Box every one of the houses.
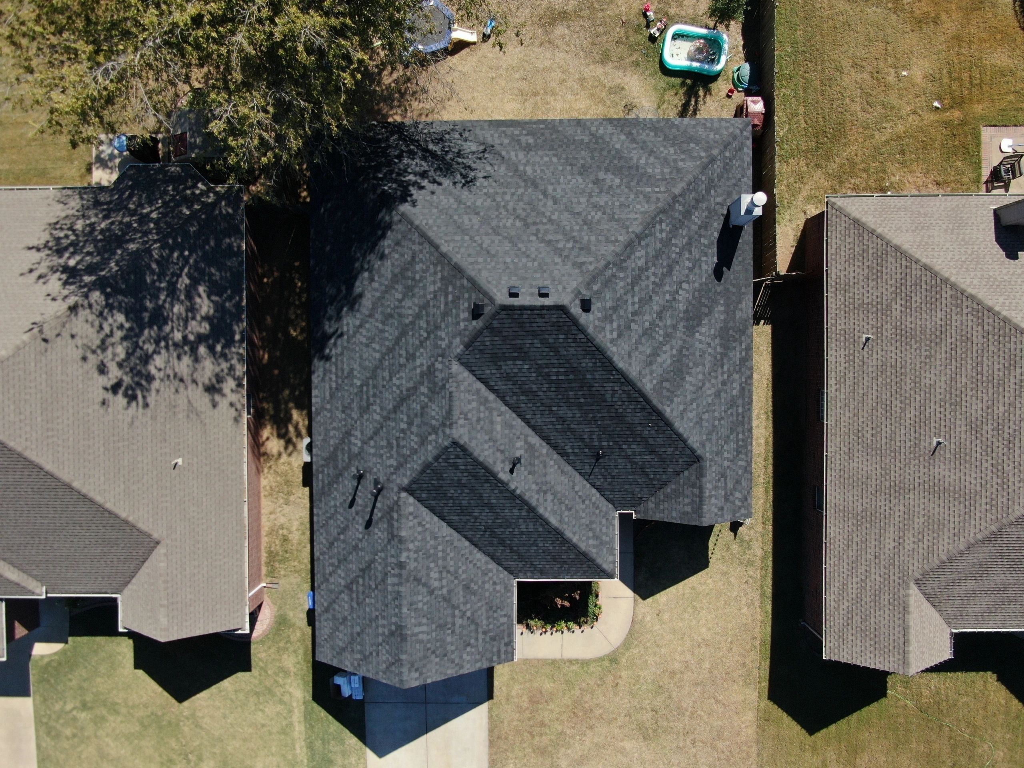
[0,162,268,664]
[310,116,766,689]
[799,194,1024,677]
